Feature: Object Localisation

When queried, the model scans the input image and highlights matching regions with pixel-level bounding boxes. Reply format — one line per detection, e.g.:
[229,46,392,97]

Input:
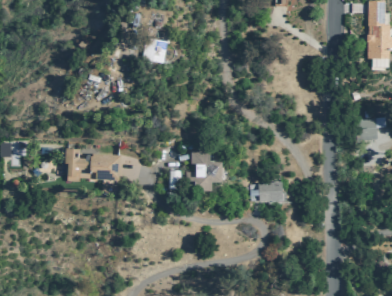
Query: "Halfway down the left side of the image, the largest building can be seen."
[66,148,119,182]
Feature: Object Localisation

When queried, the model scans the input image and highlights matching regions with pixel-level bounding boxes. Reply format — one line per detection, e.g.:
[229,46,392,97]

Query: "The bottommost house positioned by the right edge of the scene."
[360,118,386,141]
